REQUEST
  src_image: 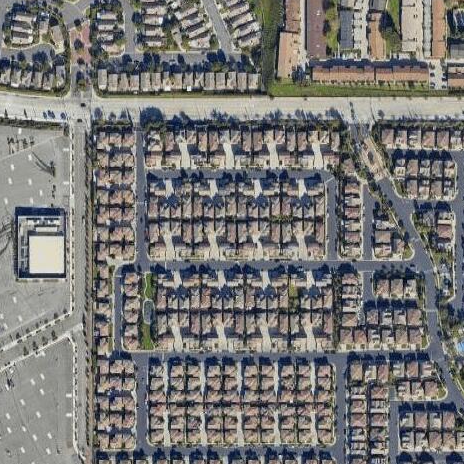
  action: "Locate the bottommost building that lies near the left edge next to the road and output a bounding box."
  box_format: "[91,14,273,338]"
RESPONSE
[16,216,66,281]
